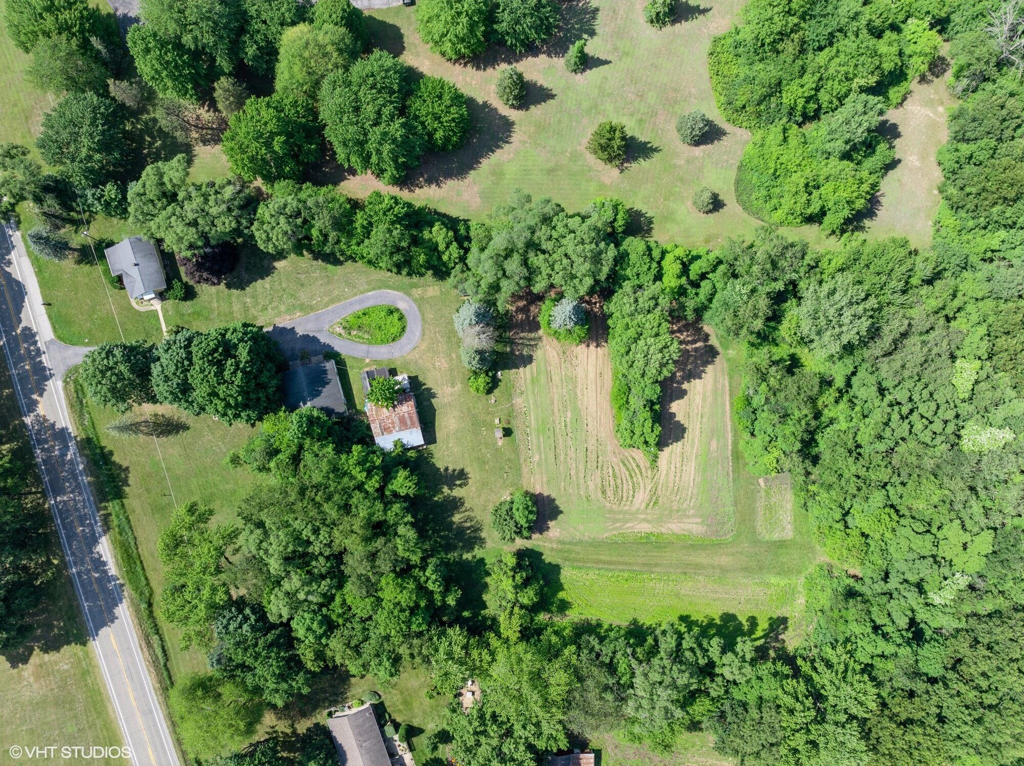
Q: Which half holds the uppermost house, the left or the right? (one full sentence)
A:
The uppermost house appears in the left half of the scene.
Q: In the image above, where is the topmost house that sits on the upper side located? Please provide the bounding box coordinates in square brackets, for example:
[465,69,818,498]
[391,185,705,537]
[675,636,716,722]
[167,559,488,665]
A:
[104,235,170,307]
